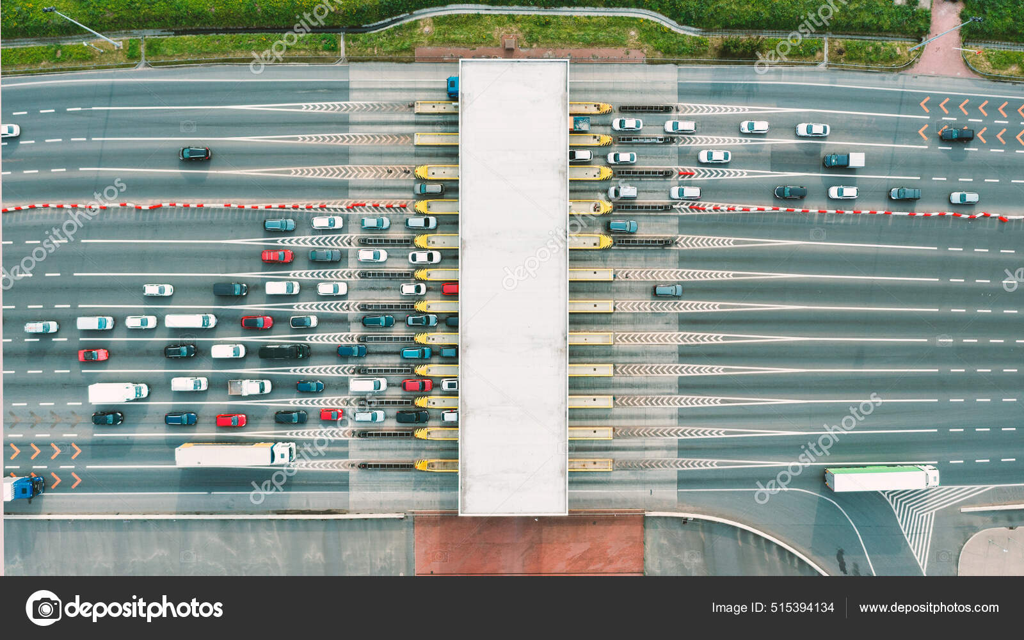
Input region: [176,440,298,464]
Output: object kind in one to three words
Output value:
truck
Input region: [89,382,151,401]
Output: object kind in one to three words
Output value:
vehicle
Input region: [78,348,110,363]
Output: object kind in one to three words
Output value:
car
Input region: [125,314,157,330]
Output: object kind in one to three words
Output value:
car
